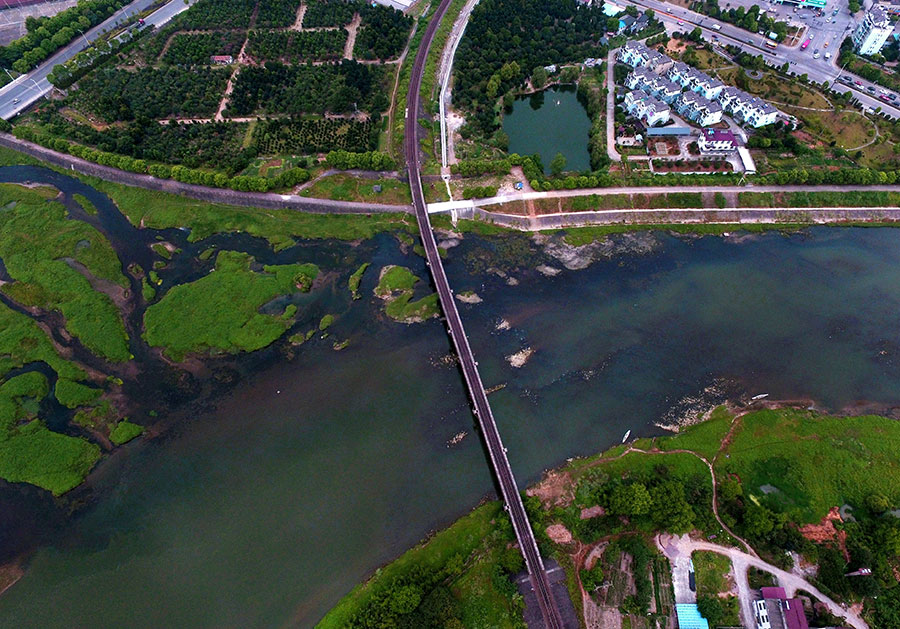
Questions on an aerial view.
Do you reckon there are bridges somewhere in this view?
Yes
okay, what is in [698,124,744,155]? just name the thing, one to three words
house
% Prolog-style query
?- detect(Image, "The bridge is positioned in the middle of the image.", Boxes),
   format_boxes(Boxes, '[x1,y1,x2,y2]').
[406,162,548,581]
